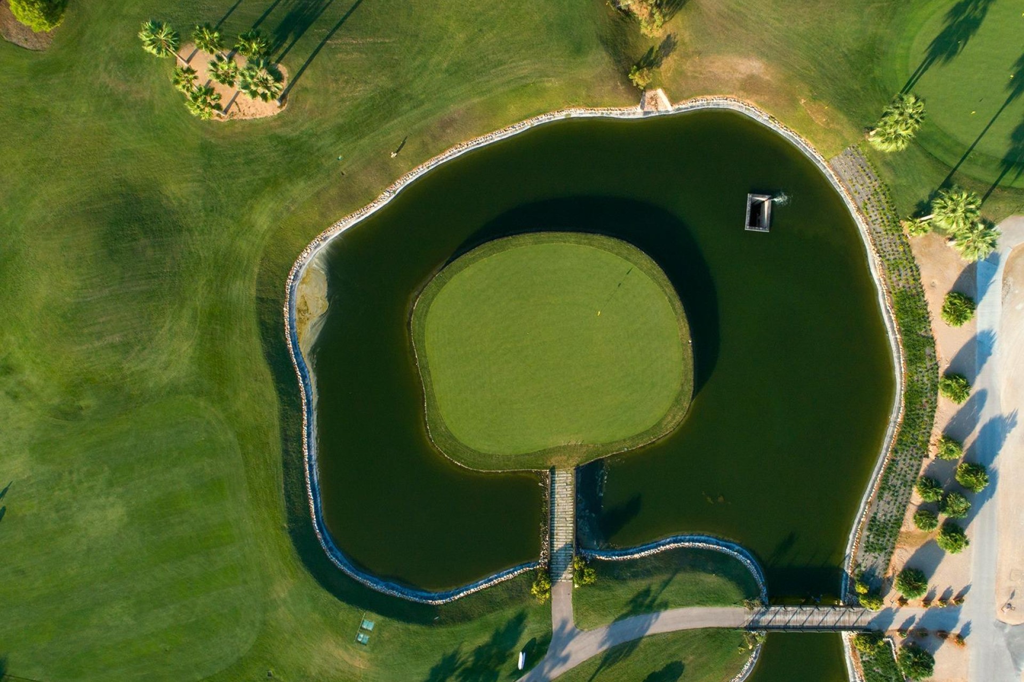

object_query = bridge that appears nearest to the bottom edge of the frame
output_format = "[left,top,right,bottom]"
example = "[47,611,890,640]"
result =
[745,604,879,637]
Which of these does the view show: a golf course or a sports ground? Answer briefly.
golf course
